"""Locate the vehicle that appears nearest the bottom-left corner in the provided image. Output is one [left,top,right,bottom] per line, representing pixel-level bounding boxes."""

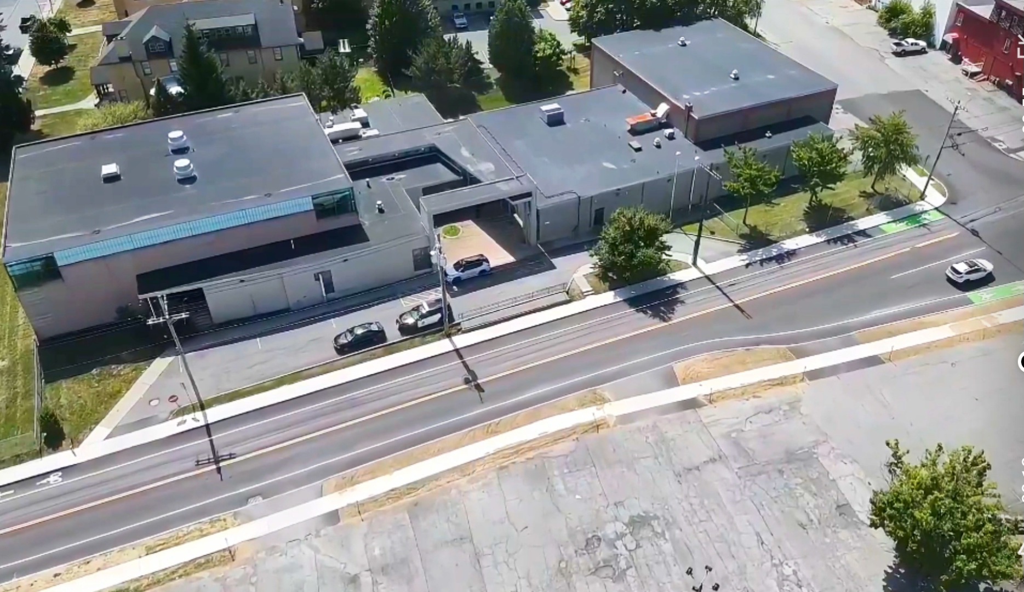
[331,316,387,349]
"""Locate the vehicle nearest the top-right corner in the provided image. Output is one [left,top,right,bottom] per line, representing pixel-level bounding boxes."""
[890,38,931,56]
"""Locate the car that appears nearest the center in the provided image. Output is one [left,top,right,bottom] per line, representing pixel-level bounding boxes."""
[444,250,490,280]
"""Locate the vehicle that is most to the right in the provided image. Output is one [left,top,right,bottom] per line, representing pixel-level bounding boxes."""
[945,257,997,284]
